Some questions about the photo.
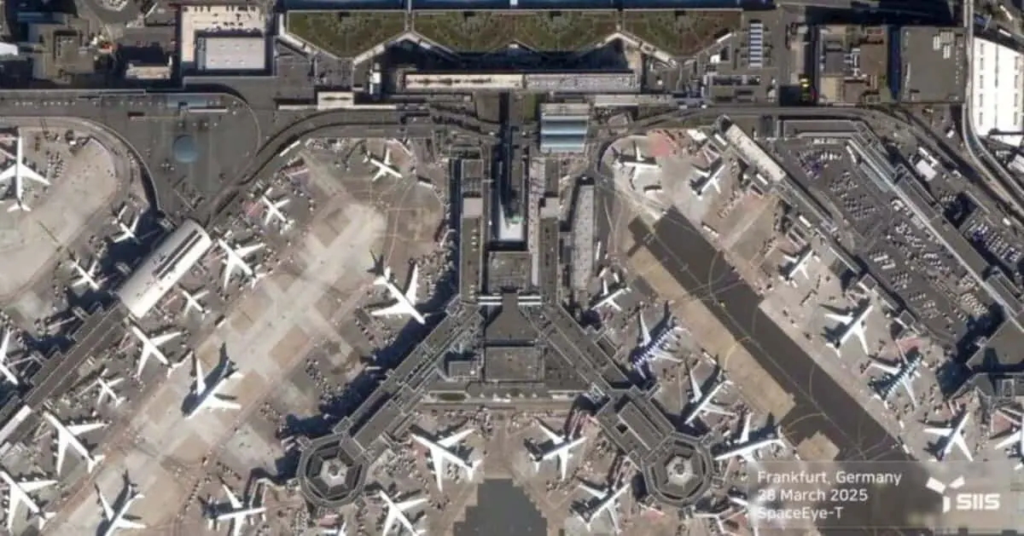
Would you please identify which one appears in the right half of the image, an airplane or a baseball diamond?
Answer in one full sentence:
It is an airplane that can be seen in the right half of the image.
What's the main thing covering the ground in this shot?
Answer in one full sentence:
The scene is dominated by paved ground.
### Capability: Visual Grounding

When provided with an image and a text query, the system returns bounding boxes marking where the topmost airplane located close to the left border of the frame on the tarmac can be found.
[0,135,51,213]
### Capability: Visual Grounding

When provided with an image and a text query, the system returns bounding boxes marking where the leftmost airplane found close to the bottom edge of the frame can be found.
[0,471,55,528]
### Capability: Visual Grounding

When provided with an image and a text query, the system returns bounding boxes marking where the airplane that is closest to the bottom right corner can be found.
[995,428,1024,468]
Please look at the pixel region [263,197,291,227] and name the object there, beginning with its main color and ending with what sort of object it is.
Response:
white airplane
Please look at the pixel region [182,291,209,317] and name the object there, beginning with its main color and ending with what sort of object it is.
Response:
white airplane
